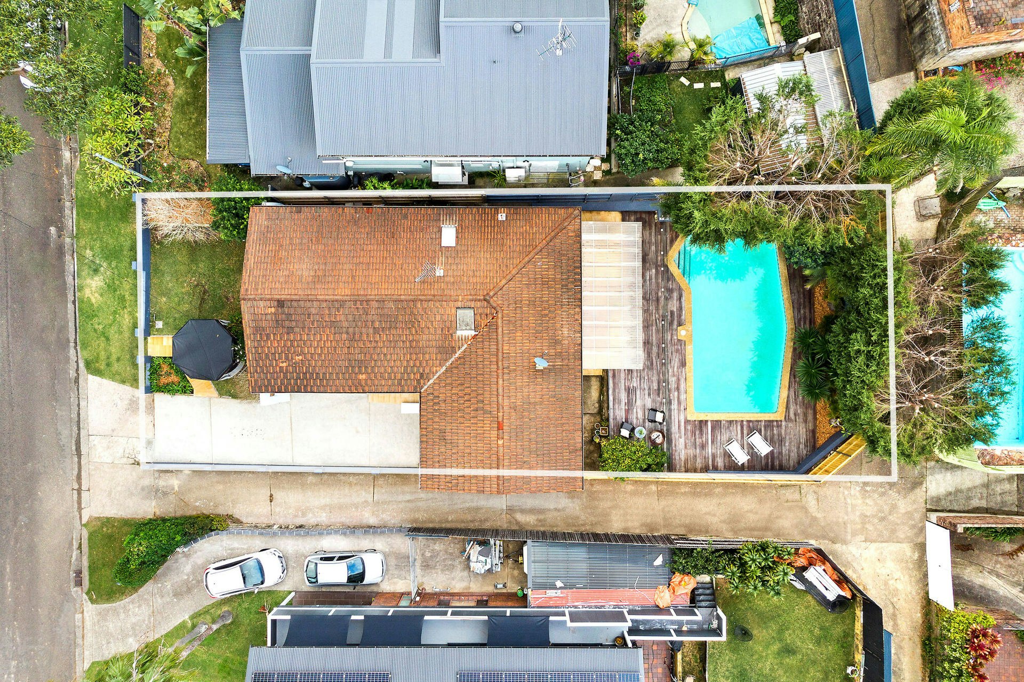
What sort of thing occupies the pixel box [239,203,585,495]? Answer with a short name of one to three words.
house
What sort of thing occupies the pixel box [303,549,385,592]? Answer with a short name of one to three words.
car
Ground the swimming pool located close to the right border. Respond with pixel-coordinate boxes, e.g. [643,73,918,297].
[960,245,1024,450]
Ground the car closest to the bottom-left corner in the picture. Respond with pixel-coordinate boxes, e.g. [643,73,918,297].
[199,549,290,601]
